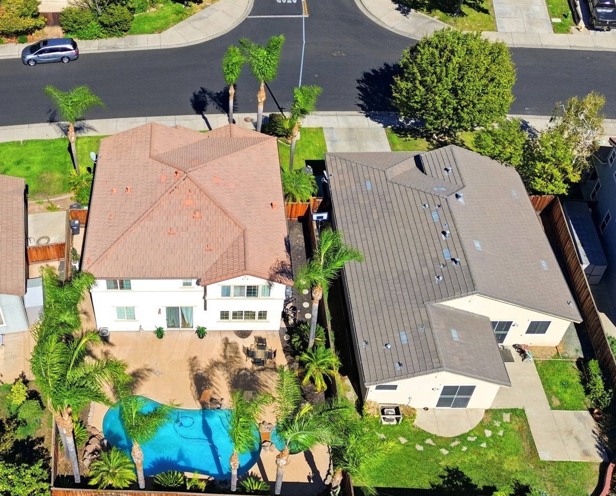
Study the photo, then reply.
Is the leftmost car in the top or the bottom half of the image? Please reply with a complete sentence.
The leftmost car sits in the top half of the picture.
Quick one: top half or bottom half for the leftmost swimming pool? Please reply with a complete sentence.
It is in the bottom half that the leftmost swimming pool appears.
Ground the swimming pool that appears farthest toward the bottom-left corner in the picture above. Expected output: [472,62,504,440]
[98,391,265,484]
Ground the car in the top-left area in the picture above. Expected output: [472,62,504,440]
[21,38,79,69]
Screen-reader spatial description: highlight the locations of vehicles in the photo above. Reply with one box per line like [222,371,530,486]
[586,0,616,26]
[21,38,79,69]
